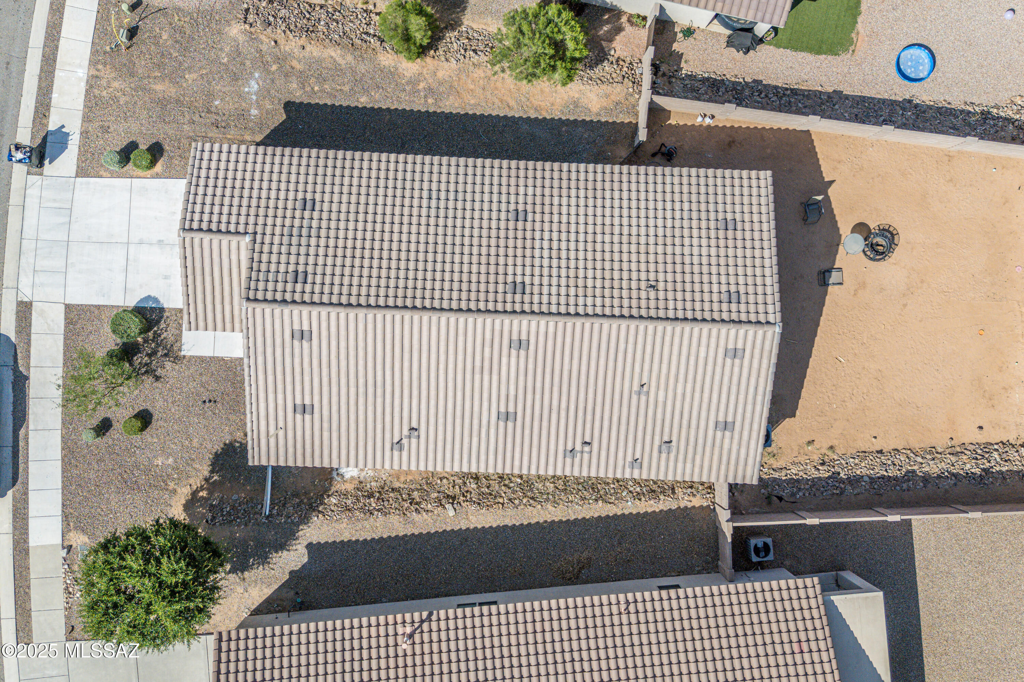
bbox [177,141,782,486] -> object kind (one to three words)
house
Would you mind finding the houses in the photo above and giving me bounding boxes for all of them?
[213,568,889,682]
[177,141,782,486]
[594,0,793,47]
